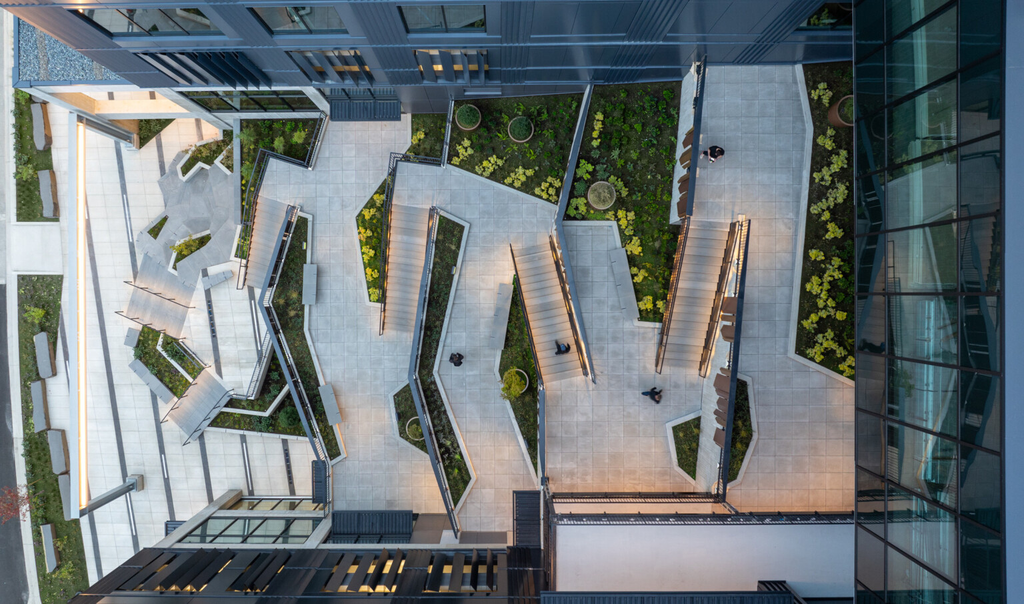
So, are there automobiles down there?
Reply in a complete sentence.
No, the scene contains no automobile.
